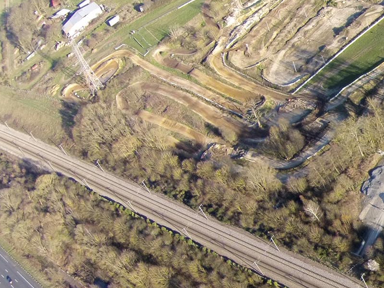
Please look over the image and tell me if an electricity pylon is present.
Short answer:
Yes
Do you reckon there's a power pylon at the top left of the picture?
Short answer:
Yes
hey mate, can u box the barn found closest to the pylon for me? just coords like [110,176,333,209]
[62,2,105,43]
